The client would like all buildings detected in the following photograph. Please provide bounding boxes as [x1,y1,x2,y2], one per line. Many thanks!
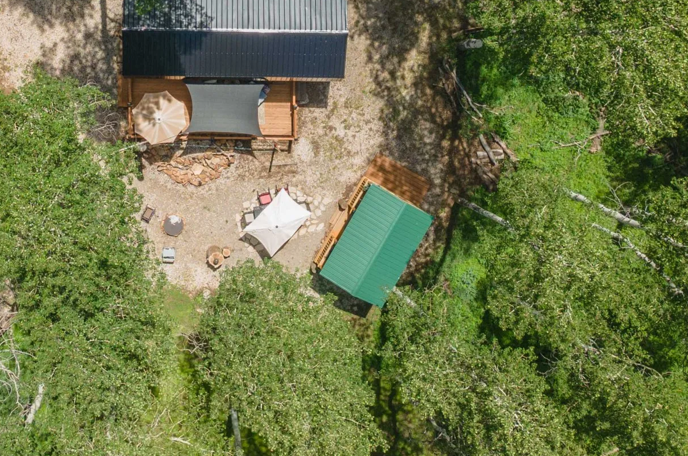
[319,183,434,308]
[121,0,349,85]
